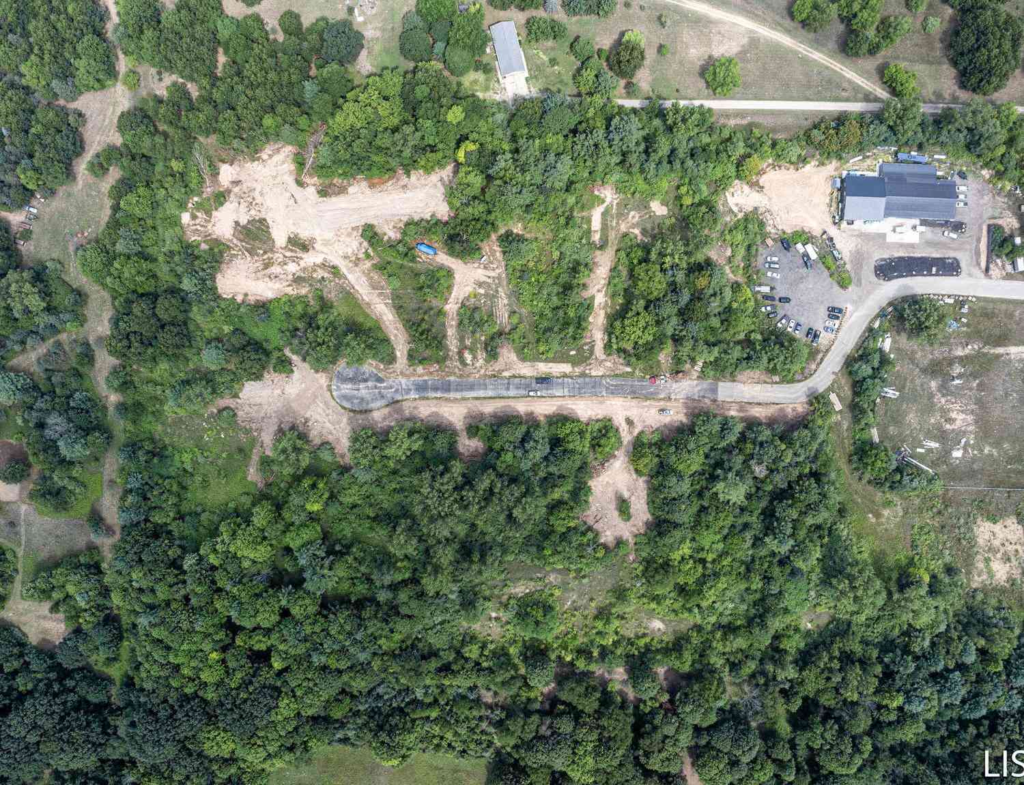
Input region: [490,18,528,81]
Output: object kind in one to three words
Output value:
barn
